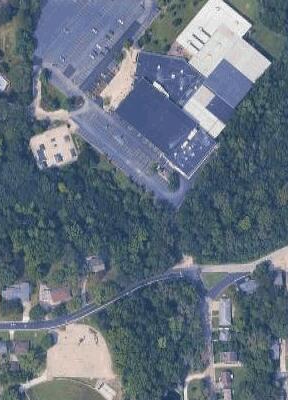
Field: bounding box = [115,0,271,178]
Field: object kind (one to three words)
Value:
building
